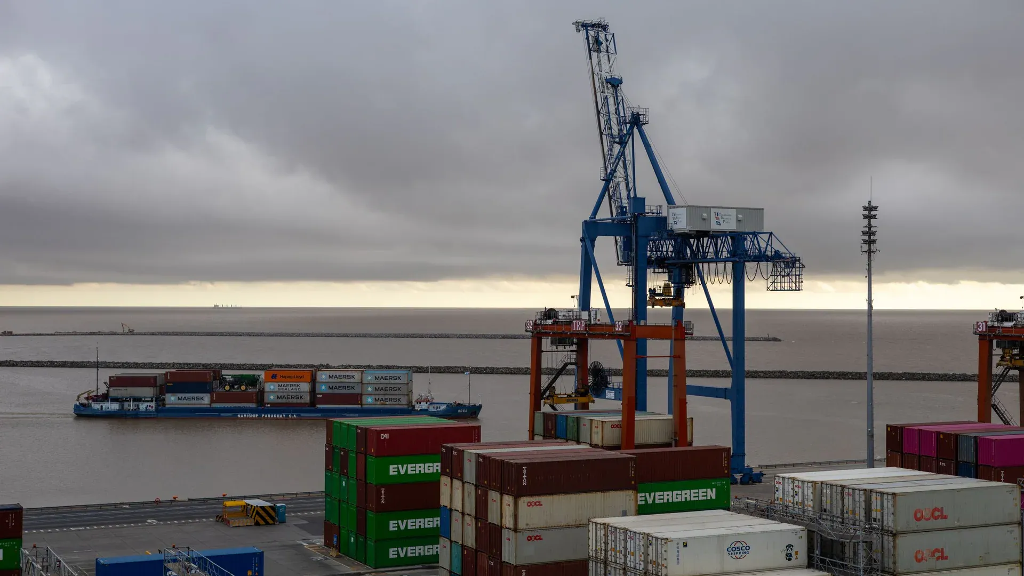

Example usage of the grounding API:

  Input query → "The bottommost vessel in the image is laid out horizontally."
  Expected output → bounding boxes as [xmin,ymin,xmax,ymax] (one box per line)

[75,350,482,419]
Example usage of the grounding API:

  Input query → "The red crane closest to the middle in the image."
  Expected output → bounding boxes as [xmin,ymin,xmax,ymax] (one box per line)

[518,296,702,450]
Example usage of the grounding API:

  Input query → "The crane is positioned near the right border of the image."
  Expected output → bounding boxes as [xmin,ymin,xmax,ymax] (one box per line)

[964,303,1024,428]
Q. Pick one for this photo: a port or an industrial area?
port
